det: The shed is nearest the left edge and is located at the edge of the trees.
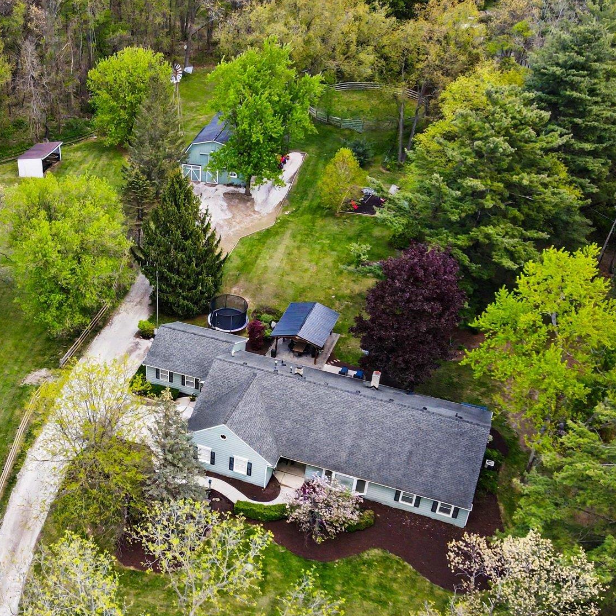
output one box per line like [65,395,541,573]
[15,141,57,178]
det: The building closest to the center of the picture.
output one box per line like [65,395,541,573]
[268,298,341,368]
